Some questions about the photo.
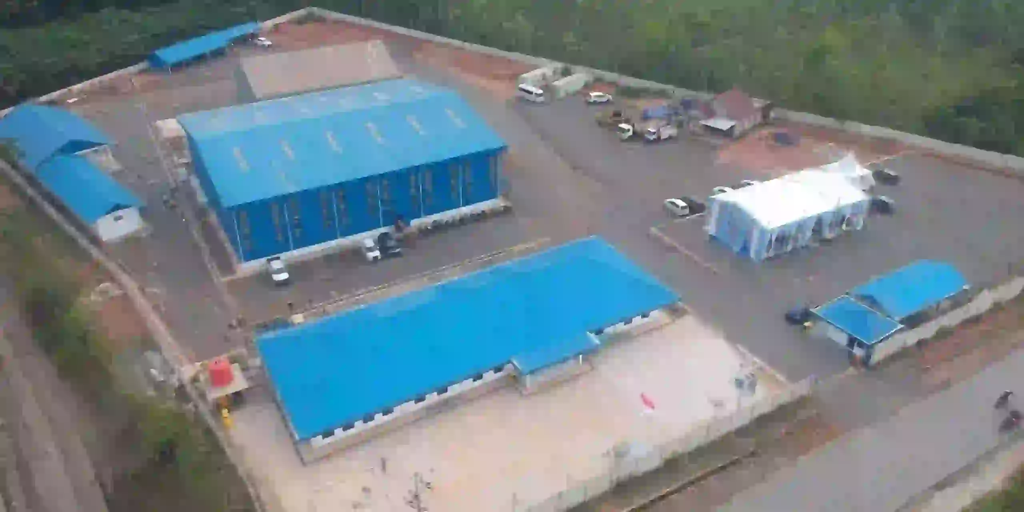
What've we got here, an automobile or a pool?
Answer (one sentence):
There is an automobile in the scene.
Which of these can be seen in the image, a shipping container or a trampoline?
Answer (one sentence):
This aerial view contains a shipping container.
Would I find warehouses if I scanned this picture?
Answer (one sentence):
Yes, a warehouse is visible in the scene.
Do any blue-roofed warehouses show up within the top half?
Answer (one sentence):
Yes, looking within the top half, one can make out a blue-roofed warehouse.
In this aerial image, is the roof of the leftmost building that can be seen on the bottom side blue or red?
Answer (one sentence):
The color of the roof of the leftmost building that can be seen on the bottom side is blue.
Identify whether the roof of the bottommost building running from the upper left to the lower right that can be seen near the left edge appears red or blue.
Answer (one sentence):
The roof of the bottommost building running from the upper left to the lower right that can be seen near the left edge looks blue in the image.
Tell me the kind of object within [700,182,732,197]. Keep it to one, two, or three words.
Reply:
car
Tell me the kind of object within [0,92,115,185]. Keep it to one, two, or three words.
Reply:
building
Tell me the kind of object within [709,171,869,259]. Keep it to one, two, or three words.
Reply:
tent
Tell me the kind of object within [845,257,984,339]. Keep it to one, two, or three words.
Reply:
shed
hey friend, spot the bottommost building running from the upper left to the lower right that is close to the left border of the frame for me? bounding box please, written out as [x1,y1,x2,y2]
[36,157,144,244]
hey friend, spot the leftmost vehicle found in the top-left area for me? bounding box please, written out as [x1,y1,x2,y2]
[250,35,274,47]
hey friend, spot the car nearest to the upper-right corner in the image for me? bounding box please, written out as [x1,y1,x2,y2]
[869,164,906,187]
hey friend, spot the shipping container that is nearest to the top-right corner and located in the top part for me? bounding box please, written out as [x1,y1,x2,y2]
[548,69,585,97]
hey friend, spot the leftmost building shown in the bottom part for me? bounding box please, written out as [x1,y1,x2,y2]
[252,235,680,467]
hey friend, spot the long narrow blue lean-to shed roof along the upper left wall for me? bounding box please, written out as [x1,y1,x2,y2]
[137,19,262,79]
